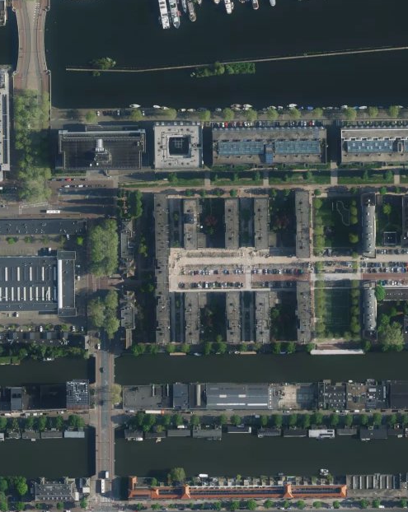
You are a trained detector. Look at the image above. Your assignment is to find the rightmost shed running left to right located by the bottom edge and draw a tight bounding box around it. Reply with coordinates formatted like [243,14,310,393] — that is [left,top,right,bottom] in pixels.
[347,474,406,498]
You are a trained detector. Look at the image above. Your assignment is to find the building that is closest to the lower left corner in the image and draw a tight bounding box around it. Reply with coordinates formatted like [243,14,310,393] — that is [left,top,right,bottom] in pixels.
[31,477,79,502]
